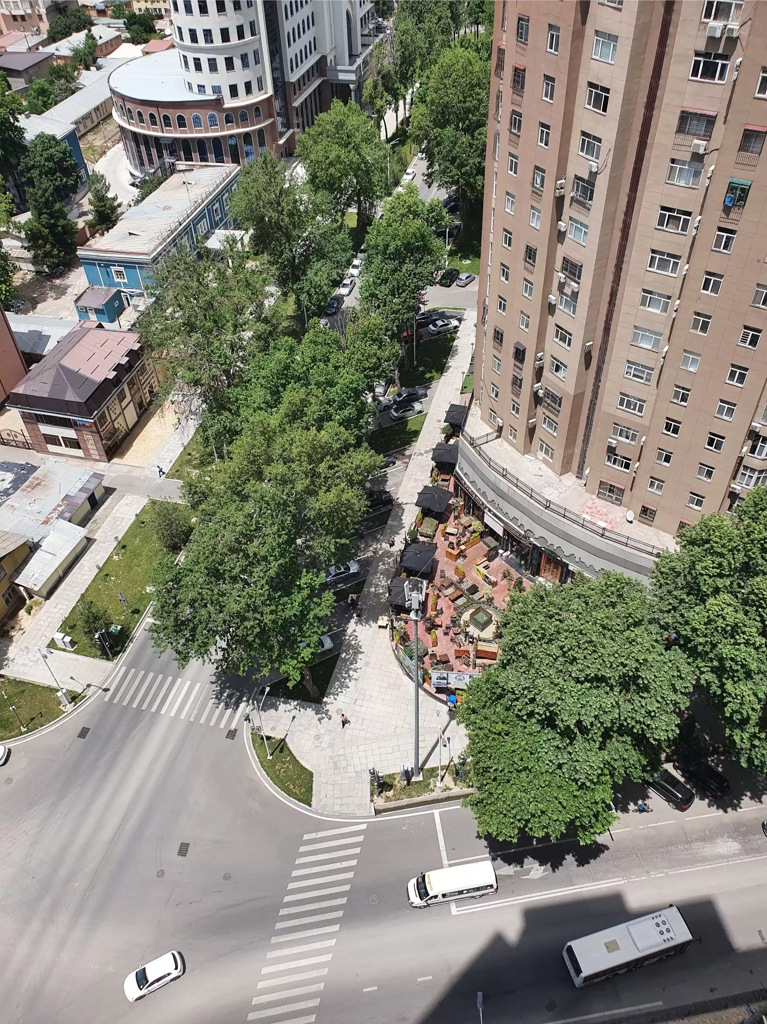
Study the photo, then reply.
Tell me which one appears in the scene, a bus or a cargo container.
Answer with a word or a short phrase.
bus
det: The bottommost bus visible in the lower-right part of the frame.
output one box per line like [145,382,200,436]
[560,903,704,989]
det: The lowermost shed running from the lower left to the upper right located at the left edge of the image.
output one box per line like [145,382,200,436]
[13,520,90,602]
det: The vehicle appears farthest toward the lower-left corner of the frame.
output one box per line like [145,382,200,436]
[125,946,183,994]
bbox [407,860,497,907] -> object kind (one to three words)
vehicle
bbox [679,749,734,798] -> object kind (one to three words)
car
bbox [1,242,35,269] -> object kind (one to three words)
building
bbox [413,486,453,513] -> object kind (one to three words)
umbrella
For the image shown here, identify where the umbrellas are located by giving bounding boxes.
[428,443,461,469]
[383,577,425,608]
[441,405,467,431]
[413,486,453,513]
[396,541,438,573]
